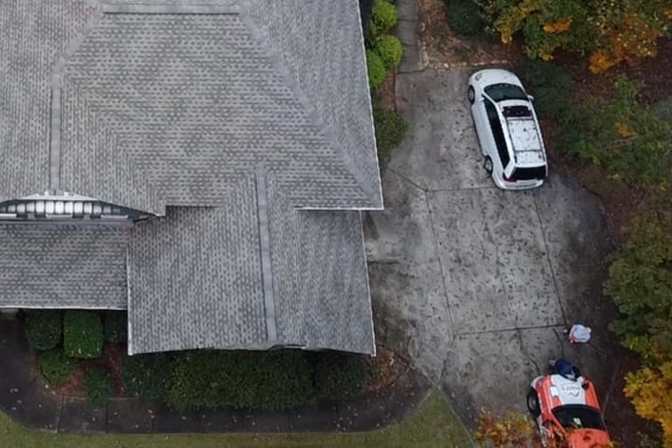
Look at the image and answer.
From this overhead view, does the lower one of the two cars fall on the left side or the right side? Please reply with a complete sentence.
The lower one of the two cars appears in the right half of the scene.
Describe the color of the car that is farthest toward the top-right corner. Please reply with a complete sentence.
The car that is farthest toward the top-right corner is white.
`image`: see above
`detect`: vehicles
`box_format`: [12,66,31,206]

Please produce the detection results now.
[526,369,615,448]
[470,68,549,188]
